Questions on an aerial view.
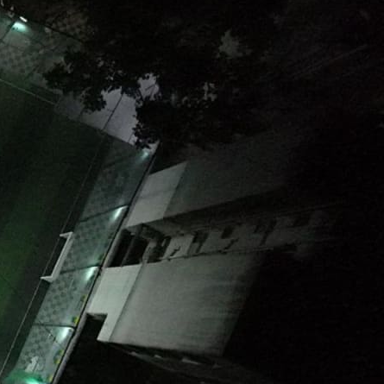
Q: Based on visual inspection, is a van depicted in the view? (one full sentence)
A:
No, I can't see a single van in this photo.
